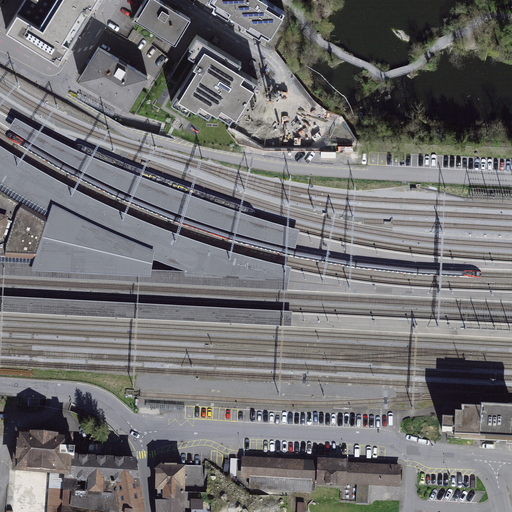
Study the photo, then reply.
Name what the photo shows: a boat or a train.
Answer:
train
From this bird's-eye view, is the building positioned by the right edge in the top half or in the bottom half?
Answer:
bottom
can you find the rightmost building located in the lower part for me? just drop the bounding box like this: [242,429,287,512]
[441,402,512,440]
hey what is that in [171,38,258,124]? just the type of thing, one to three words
building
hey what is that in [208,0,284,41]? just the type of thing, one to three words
building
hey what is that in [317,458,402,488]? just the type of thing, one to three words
shed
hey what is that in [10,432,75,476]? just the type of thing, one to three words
house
